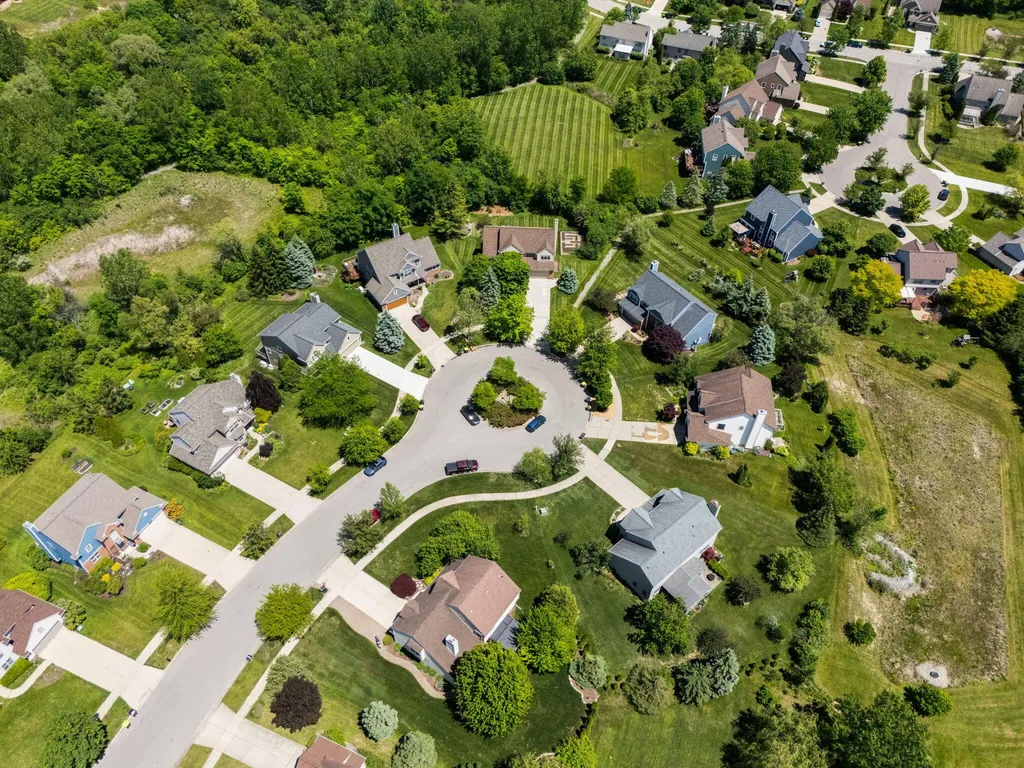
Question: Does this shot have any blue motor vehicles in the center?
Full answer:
Yes, looking in the center, one can make out a blue motor vehicle.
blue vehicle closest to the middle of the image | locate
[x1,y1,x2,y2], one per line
[524,414,547,433]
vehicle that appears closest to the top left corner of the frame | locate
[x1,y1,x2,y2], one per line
[411,313,431,331]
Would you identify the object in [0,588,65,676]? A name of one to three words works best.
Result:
house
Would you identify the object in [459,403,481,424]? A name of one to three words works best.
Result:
car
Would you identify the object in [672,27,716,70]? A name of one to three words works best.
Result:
house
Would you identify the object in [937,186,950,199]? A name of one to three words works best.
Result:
vehicle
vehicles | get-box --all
[888,224,908,238]
[819,40,835,48]
[362,454,389,477]
[444,457,480,474]
[524,414,547,433]
[459,403,481,424]
[937,186,950,199]
[362,503,381,525]
[411,313,431,331]
[815,17,822,25]
[847,40,862,49]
